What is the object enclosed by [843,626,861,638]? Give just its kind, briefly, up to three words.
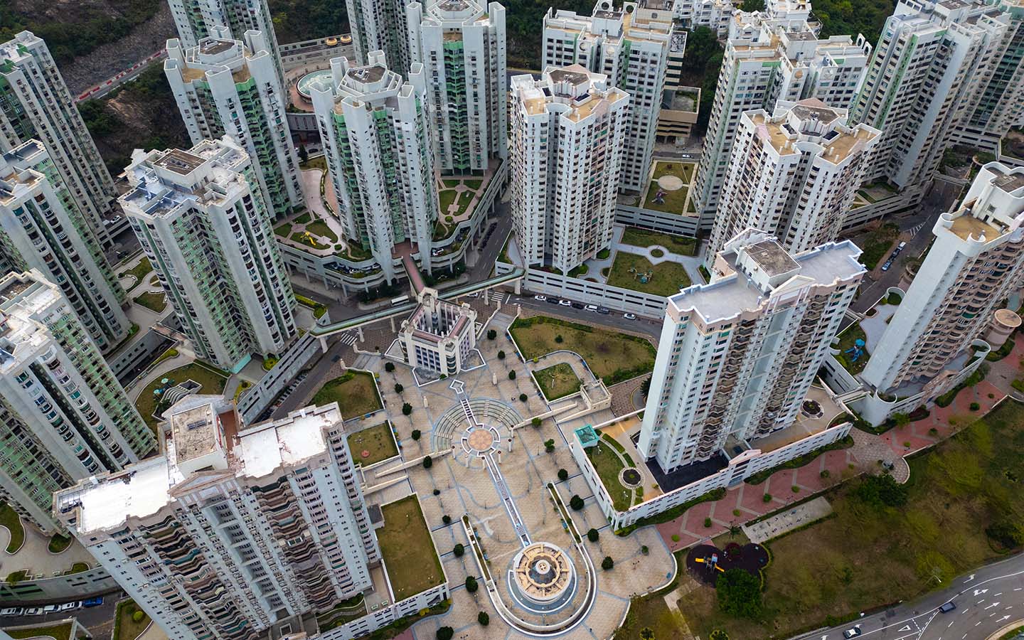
vehicle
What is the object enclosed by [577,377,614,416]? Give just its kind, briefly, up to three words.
building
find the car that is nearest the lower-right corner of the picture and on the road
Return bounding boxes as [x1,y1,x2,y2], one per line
[938,601,957,614]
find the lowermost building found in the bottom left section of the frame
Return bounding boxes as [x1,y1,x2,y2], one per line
[51,403,383,640]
